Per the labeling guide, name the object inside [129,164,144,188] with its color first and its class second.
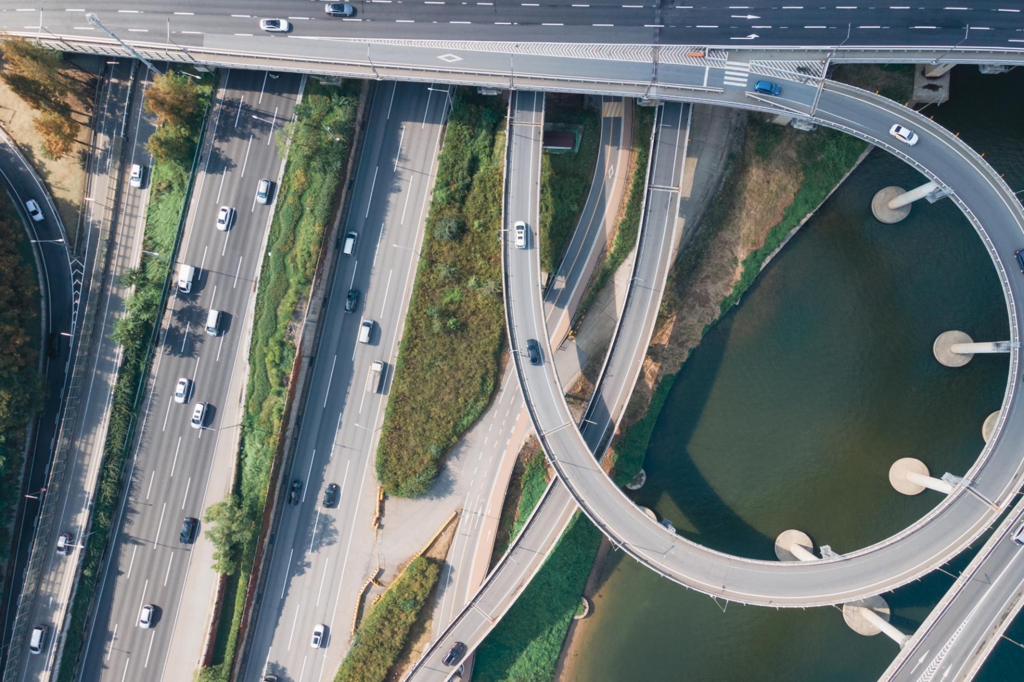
white car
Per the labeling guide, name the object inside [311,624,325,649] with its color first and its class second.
white car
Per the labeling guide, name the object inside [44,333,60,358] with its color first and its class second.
black vehicle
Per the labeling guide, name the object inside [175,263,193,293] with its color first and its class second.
white vehicle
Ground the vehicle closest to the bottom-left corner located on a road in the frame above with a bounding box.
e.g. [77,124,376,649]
[28,627,45,653]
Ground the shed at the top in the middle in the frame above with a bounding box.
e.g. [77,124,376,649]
[542,127,575,146]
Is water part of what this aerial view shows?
Yes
